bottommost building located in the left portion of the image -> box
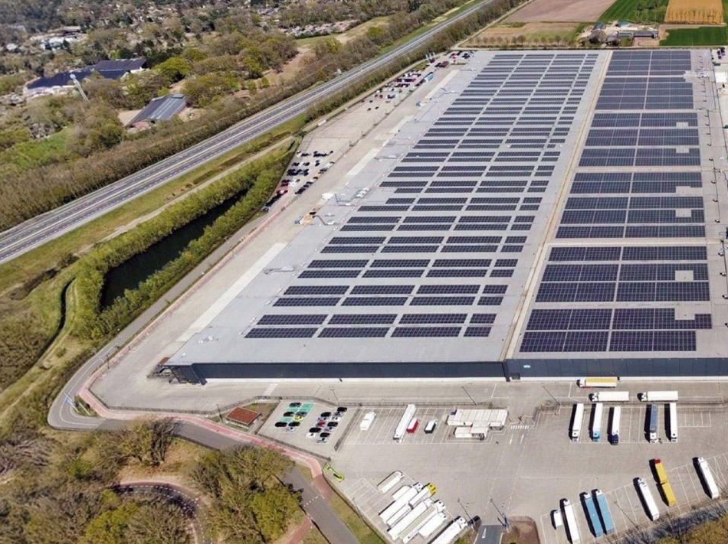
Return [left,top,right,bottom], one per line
[226,408,263,428]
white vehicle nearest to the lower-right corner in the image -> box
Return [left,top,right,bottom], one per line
[697,458,718,502]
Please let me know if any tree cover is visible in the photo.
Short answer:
Yes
